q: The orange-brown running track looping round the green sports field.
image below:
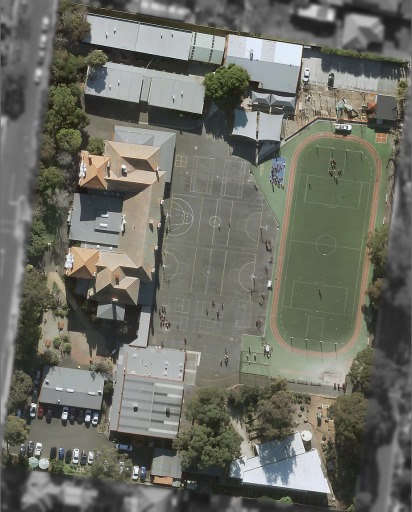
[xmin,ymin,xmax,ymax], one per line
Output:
[274,134,378,354]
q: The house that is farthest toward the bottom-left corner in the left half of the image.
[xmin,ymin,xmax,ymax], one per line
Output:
[22,478,56,512]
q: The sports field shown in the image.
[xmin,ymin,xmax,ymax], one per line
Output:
[278,138,374,350]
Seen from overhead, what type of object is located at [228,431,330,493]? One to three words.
building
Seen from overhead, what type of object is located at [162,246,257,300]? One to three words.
basketball court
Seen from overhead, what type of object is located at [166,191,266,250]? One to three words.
basketball court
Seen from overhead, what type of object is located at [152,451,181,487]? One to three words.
shed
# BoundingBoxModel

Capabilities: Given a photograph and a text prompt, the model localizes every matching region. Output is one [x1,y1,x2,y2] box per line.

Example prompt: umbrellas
[28,458,38,469]
[38,458,50,470]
